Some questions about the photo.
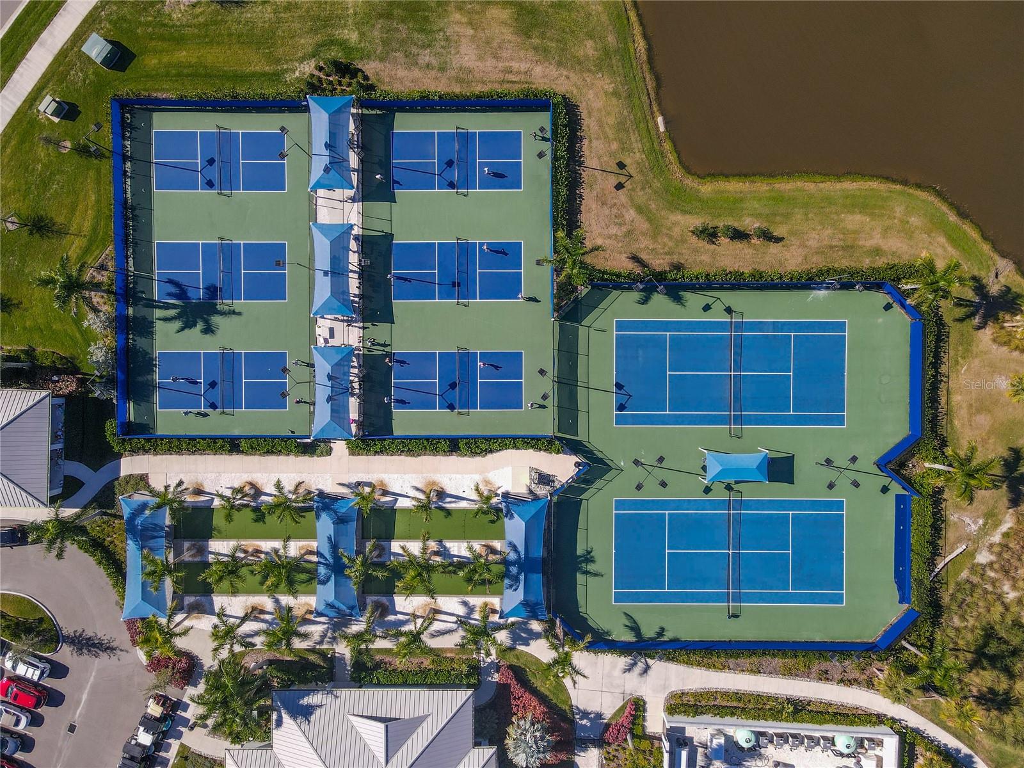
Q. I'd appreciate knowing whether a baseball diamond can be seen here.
No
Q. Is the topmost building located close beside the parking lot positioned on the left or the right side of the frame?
left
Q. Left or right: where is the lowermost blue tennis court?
right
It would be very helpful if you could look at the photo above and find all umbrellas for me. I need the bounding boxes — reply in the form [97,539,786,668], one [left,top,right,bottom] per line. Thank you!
[734,728,756,750]
[834,733,856,755]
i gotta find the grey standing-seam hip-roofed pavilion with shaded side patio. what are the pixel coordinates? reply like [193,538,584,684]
[0,388,66,509]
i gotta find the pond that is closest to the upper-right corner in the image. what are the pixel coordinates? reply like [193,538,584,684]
[637,0,1024,273]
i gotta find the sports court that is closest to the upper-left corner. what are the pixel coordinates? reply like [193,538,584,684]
[154,130,285,191]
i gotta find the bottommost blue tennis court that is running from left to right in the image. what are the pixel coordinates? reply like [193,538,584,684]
[614,499,845,605]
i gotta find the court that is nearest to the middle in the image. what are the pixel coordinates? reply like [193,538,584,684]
[393,350,523,411]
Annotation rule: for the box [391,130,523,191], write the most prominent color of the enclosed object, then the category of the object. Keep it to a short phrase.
blue sports court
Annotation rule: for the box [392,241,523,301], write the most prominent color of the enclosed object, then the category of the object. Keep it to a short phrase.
blue sports court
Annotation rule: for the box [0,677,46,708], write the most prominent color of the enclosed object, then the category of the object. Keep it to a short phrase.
red car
